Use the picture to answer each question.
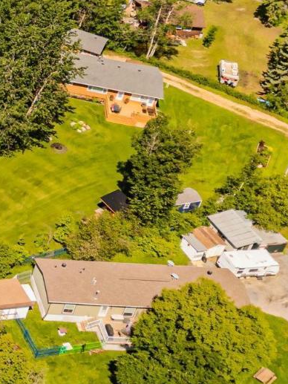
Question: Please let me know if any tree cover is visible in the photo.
Yes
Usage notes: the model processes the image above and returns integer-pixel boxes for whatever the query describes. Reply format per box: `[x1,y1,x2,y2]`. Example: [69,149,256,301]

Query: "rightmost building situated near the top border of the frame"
[156,2,206,46]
